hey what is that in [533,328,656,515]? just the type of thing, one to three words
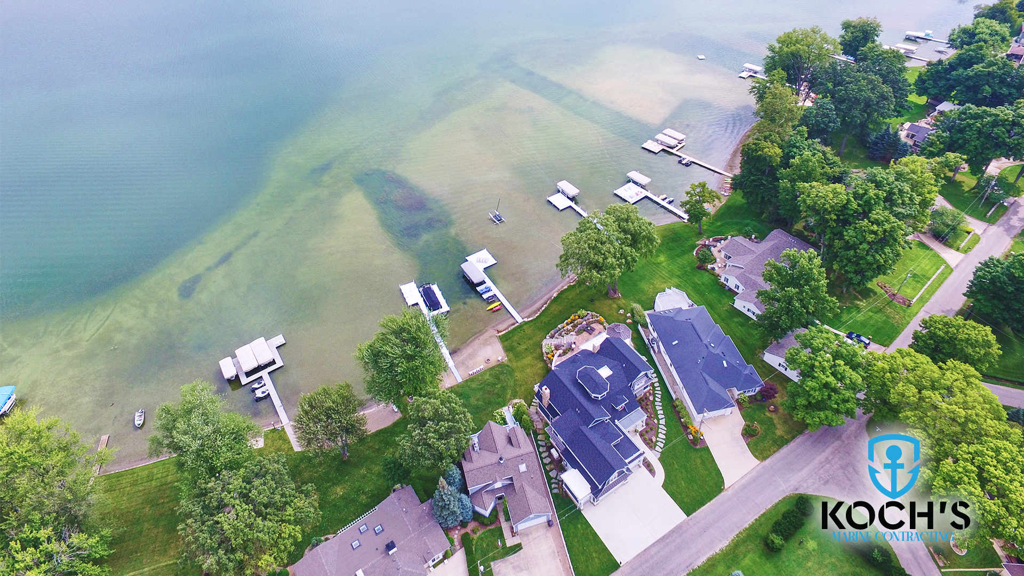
house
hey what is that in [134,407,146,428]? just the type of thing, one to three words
boat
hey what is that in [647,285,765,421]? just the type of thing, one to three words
house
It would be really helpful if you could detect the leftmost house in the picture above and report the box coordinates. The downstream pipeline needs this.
[293,485,451,576]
